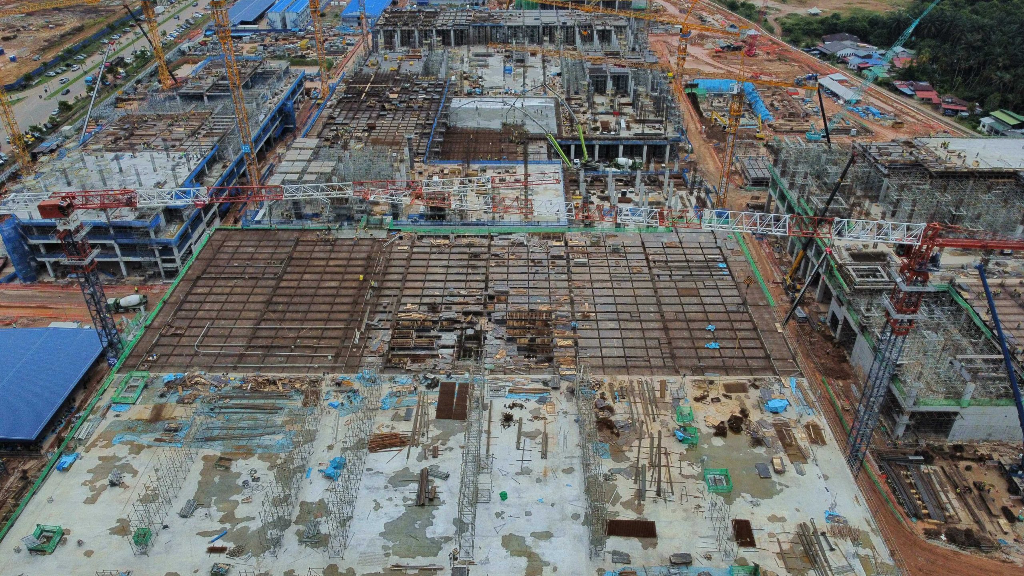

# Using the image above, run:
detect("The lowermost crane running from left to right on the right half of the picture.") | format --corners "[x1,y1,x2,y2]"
[362,180,1024,482]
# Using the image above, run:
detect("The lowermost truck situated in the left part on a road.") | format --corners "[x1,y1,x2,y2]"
[102,291,150,312]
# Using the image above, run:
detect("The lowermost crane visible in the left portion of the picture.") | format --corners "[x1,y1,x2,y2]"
[0,168,561,370]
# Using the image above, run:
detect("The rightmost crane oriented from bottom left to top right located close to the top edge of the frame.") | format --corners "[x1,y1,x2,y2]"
[802,0,937,144]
